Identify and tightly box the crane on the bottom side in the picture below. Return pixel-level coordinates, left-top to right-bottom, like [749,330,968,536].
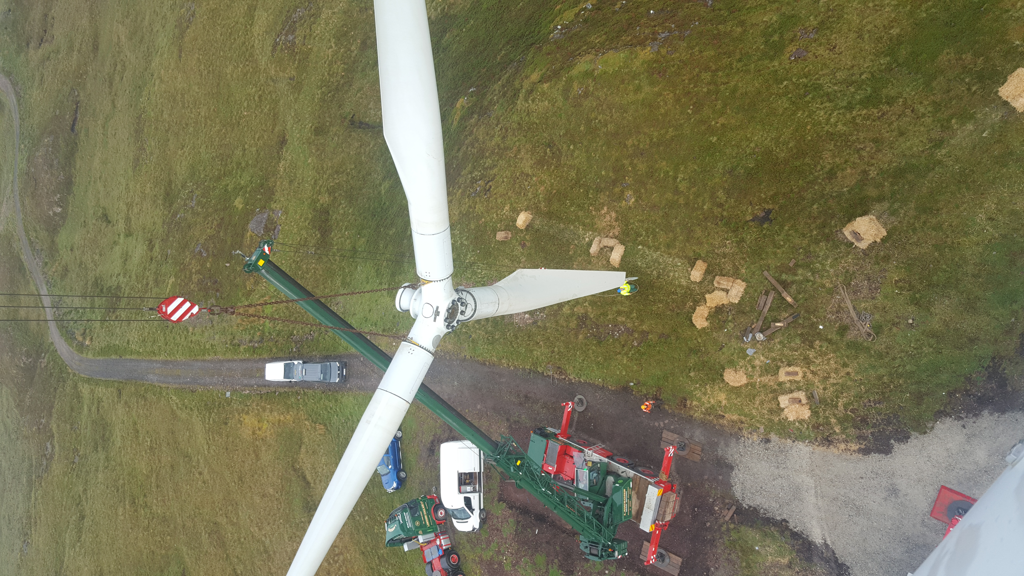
[218,242,685,565]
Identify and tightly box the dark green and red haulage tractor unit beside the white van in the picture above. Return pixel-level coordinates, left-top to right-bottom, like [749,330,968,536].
[387,493,464,576]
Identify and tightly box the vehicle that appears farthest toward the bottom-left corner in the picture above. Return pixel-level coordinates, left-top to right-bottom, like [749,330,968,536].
[261,358,303,383]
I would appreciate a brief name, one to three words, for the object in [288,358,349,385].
vehicle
